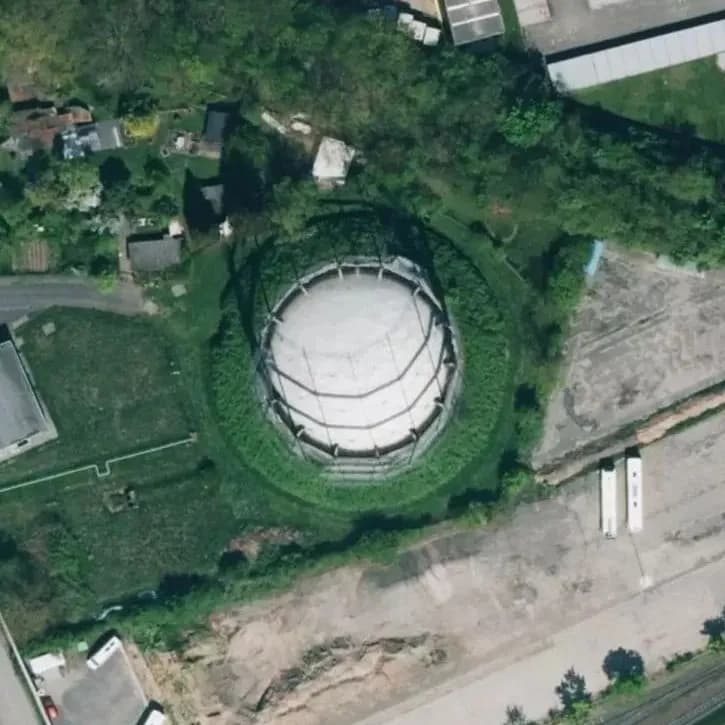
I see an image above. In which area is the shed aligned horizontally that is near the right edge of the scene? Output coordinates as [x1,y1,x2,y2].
[548,17,725,91]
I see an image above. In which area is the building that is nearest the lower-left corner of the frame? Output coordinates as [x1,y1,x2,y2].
[0,338,47,437]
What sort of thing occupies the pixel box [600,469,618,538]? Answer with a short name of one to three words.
vehicle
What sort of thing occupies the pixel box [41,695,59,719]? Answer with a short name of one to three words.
car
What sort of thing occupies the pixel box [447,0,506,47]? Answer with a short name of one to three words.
building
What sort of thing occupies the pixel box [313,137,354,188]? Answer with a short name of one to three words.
shed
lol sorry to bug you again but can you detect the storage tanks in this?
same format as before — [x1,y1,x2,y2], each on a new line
[249,257,467,483]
